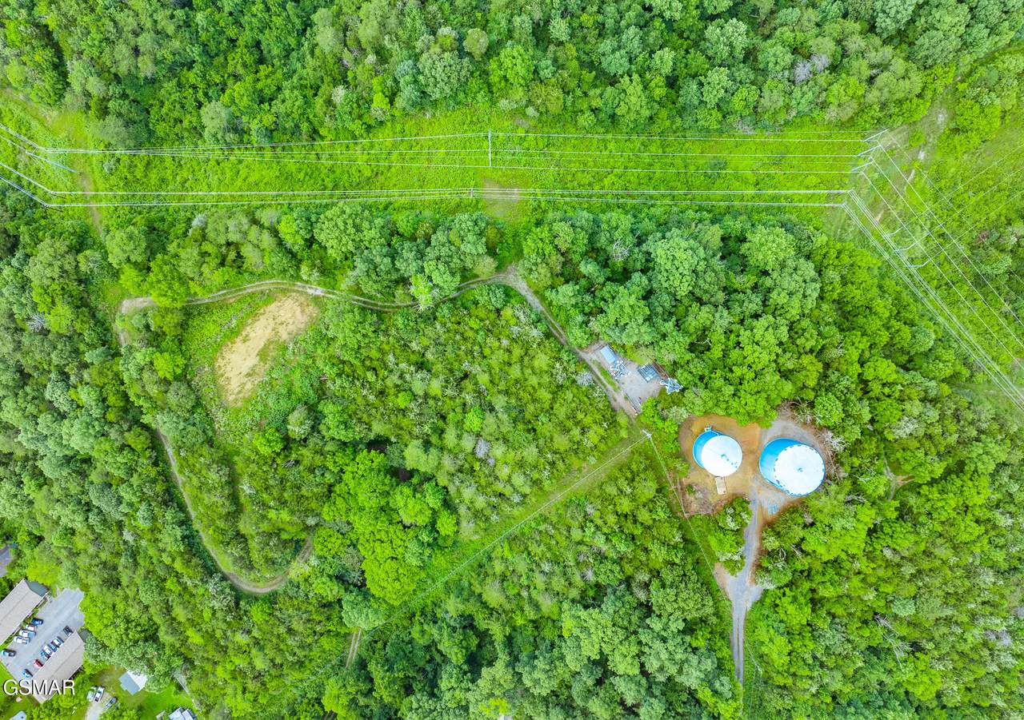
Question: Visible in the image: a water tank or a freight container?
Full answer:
It is a water tank that can be seen here.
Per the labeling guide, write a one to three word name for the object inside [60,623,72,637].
vehicle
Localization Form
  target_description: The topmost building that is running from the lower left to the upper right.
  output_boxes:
[0,578,52,648]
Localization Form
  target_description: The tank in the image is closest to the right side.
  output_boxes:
[760,438,826,495]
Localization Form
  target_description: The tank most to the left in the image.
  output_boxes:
[693,429,742,476]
